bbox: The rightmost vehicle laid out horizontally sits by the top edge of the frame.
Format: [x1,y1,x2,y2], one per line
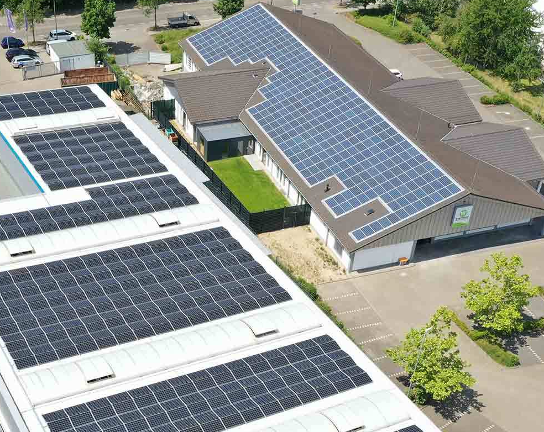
[169,13,199,28]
